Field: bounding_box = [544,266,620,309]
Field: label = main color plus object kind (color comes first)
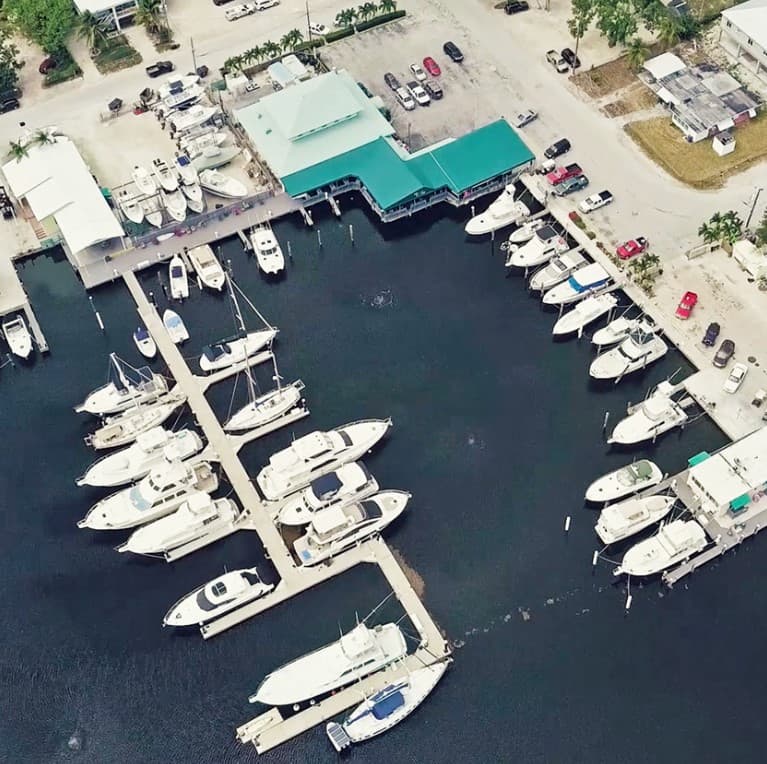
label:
white boat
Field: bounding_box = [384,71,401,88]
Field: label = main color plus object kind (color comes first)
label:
gray car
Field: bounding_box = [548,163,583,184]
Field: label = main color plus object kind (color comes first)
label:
red vehicle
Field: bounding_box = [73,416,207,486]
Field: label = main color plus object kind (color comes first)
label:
white boat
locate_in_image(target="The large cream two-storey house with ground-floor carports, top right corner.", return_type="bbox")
[715,1,767,88]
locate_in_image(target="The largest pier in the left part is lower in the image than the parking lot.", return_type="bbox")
[124,274,454,757]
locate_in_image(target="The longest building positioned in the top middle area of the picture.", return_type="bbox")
[233,69,535,228]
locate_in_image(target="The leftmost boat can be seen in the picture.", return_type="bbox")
[1,317,29,360]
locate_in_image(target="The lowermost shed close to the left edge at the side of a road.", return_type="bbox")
[1,141,125,275]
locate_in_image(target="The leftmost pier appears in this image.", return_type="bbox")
[22,303,49,358]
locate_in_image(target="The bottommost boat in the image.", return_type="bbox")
[327,723,356,759]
